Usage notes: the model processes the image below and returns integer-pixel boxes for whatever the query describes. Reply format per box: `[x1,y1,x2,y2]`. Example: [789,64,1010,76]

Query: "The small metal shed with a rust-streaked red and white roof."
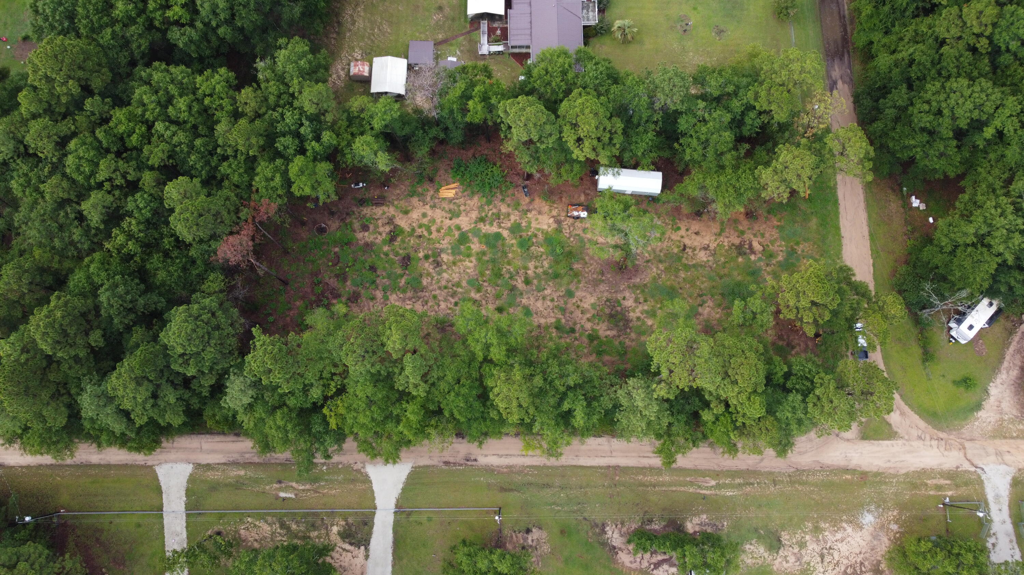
[351,61,372,80]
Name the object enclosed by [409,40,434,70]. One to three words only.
shed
